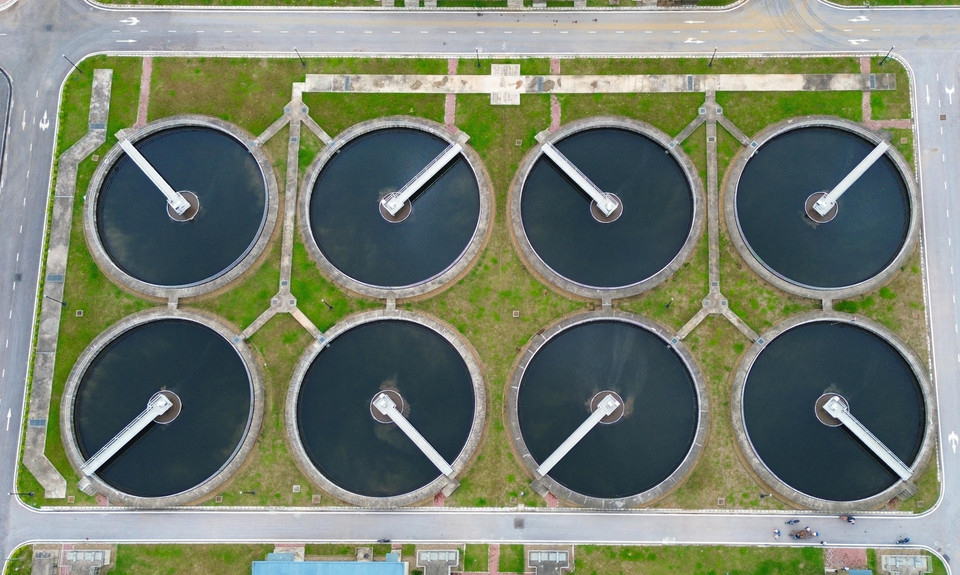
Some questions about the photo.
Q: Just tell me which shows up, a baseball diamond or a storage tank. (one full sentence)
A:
It is a storage tank that can be seen here.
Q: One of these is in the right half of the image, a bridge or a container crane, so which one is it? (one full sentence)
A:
It is a bridge that can be seen in the right half of the image.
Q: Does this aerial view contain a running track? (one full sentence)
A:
No, no running track can be seen from above.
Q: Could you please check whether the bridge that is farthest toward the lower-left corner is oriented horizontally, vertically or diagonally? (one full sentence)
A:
In this picture, the bridge that is farthest toward the lower-left corner lies diagonally.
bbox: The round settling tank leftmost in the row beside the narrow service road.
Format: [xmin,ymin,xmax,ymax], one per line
[62,309,265,507]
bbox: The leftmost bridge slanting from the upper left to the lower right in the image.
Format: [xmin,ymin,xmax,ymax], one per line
[114,136,190,215]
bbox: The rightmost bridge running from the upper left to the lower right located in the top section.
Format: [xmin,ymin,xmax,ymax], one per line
[540,139,622,215]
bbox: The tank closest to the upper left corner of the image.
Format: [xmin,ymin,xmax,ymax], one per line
[84,115,279,299]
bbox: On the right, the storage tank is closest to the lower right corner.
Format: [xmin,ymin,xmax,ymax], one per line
[731,310,937,511]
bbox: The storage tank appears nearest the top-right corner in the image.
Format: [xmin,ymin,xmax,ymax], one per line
[725,115,922,299]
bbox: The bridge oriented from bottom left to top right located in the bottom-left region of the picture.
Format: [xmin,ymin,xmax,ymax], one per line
[81,392,173,475]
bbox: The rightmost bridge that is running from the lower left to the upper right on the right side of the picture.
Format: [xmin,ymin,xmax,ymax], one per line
[813,138,894,216]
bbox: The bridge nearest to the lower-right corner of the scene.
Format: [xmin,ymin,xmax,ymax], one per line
[823,395,916,480]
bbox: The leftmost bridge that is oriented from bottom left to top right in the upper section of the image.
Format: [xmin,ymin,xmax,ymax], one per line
[380,139,464,215]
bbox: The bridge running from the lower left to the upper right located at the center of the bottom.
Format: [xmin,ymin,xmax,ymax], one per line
[538,393,622,477]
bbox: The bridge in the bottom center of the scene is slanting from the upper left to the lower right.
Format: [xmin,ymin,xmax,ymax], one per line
[371,393,454,477]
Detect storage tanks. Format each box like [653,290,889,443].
[513,117,703,298]
[297,115,491,300]
[62,309,265,507]
[84,115,279,299]
[725,115,922,299]
[731,310,937,511]
[286,310,486,507]
[506,310,708,507]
